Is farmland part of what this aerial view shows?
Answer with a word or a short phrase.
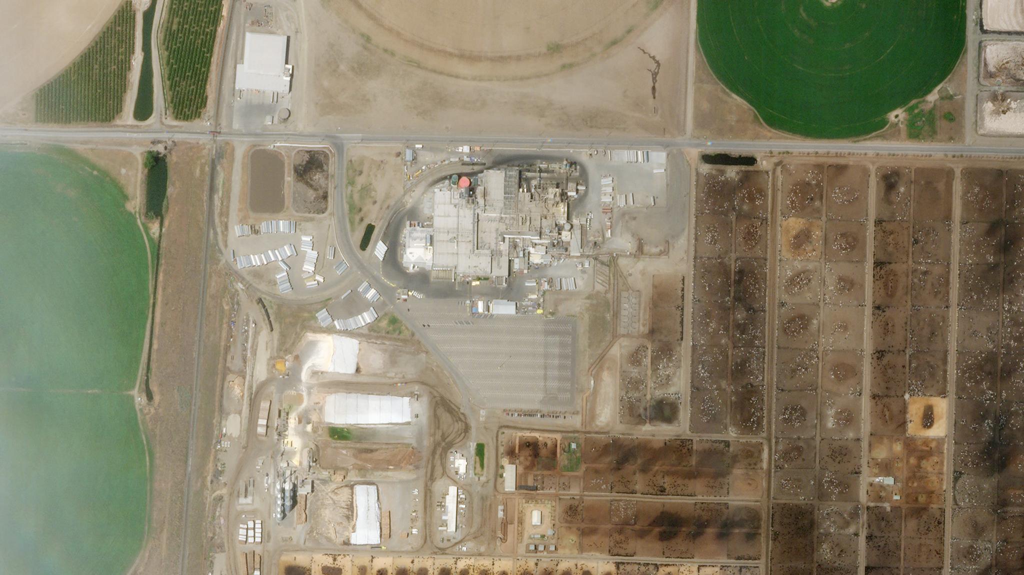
Yes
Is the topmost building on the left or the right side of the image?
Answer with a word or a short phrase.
left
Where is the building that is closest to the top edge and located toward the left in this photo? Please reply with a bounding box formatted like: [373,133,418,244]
[244,32,287,76]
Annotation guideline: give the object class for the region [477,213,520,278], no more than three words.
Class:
building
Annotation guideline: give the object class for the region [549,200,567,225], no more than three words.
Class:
building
